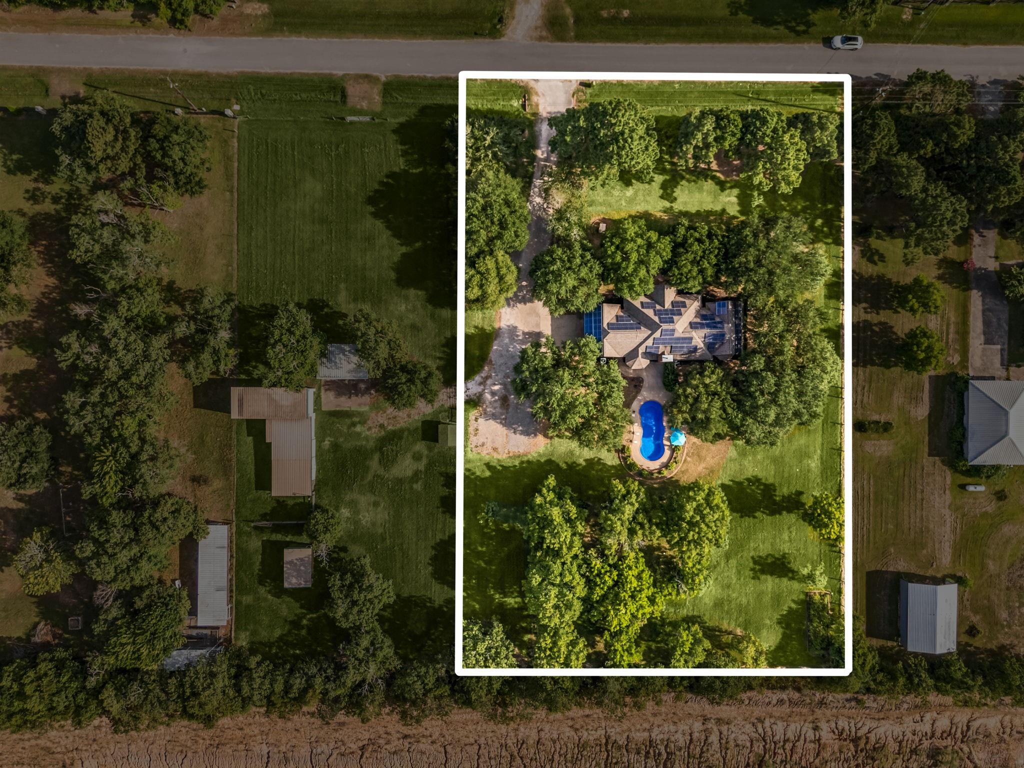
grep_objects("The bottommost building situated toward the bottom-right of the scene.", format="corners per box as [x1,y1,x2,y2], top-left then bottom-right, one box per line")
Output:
[897,579,958,654]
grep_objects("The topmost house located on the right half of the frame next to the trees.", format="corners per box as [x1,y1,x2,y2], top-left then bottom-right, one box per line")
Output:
[602,285,736,369]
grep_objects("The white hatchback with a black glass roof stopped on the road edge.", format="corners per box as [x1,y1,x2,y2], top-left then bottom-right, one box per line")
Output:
[833,34,866,52]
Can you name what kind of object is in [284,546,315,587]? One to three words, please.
shed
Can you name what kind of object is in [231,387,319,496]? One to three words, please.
barn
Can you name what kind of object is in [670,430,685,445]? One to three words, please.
umbrella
